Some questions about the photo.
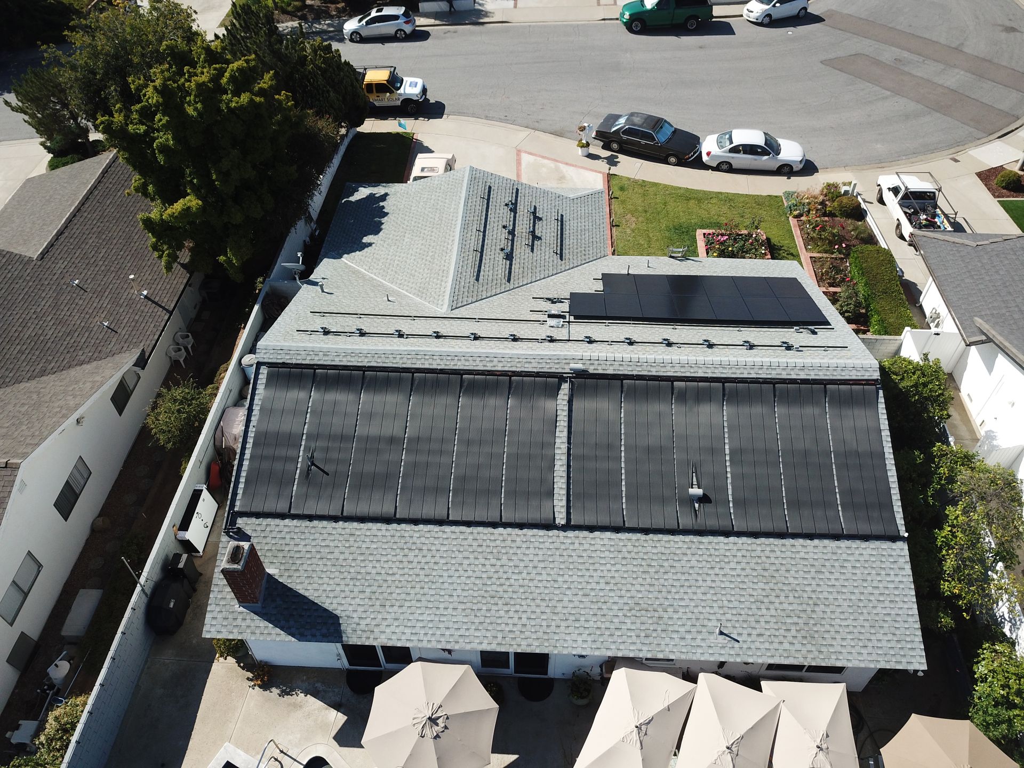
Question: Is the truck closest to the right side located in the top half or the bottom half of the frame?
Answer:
top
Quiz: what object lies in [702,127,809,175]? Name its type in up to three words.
car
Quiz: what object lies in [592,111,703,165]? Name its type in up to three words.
car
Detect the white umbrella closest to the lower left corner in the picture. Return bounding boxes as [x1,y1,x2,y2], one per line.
[362,662,499,768]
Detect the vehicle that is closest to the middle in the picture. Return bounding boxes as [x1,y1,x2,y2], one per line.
[410,155,453,183]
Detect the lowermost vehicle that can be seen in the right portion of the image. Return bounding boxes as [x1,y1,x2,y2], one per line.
[877,172,962,241]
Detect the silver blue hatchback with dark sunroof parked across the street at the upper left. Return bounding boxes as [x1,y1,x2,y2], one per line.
[341,6,413,43]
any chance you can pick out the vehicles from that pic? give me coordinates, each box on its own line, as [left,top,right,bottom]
[702,127,809,175]
[877,172,962,241]
[410,155,453,183]
[592,111,703,165]
[744,0,813,25]
[327,61,430,114]
[619,0,718,32]
[341,6,413,43]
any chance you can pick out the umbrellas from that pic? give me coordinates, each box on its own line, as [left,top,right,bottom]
[573,668,696,768]
[362,662,499,768]
[762,682,861,768]
[880,713,1016,768]
[675,673,777,768]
